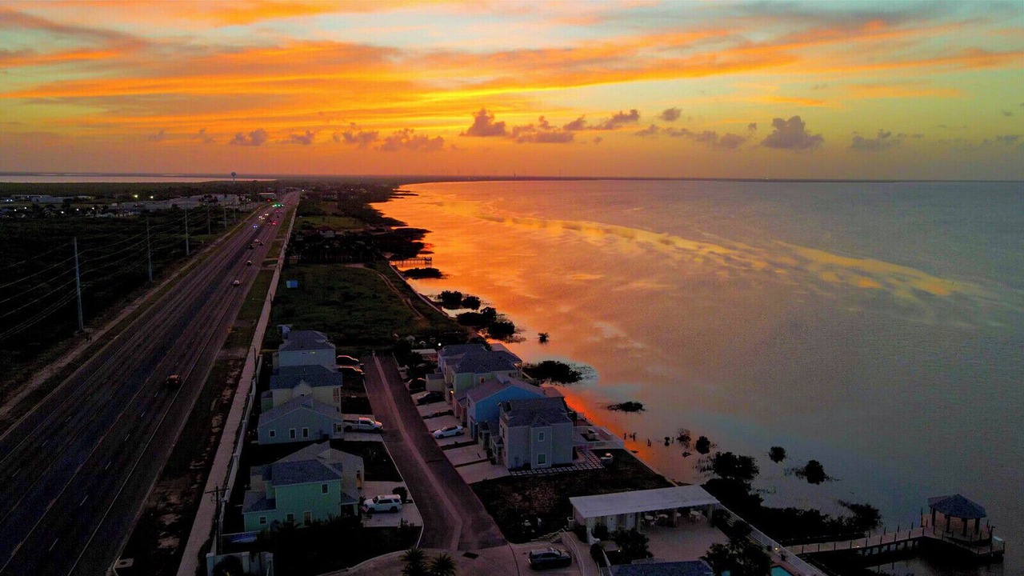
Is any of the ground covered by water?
Yes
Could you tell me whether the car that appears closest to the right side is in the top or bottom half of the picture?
bottom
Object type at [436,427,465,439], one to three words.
vehicle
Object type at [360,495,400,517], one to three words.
car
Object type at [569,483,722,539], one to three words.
building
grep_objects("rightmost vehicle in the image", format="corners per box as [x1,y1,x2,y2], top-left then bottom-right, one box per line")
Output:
[526,548,571,571]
